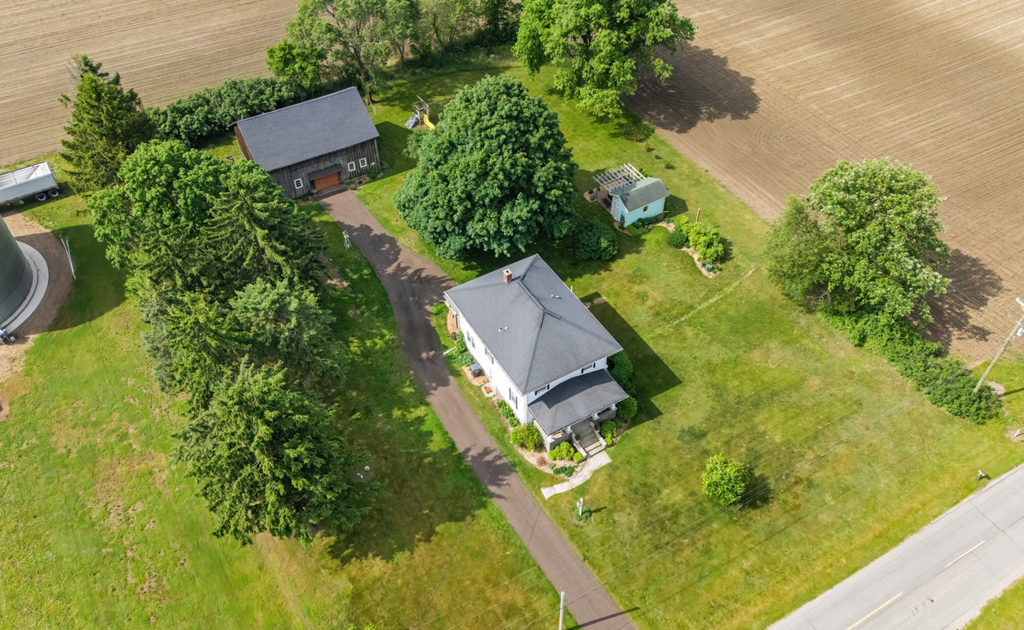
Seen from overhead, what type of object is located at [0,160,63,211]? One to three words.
trailer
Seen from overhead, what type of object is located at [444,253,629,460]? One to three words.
house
